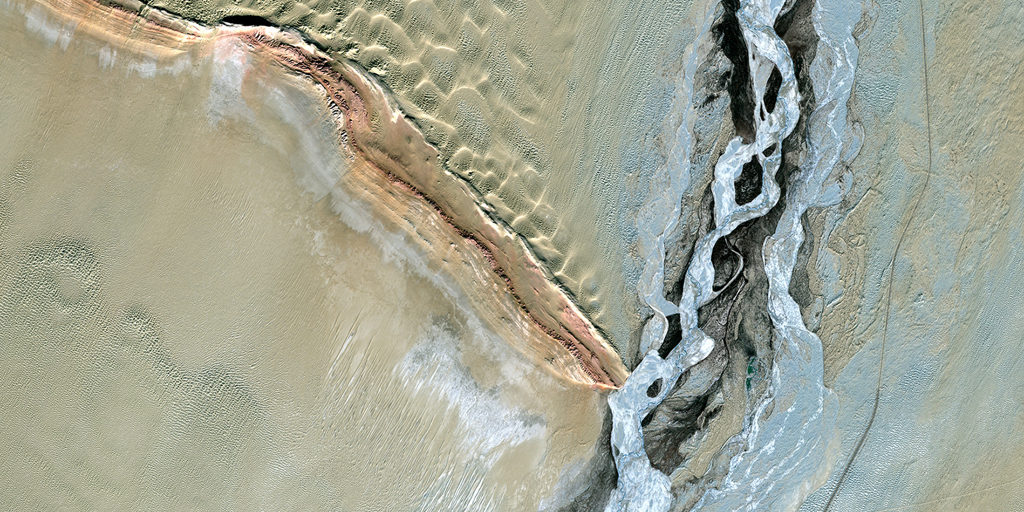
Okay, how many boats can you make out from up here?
none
